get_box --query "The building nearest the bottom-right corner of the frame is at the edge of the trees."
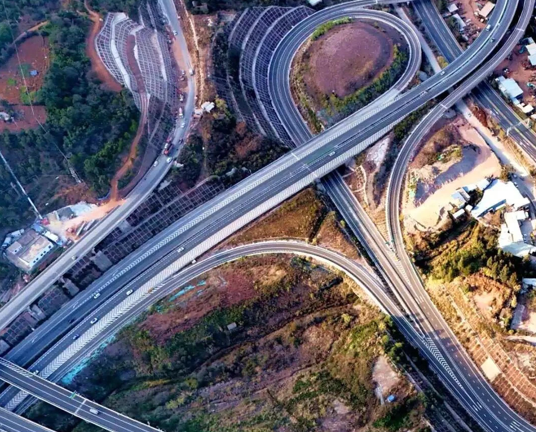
[502,243,536,263]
